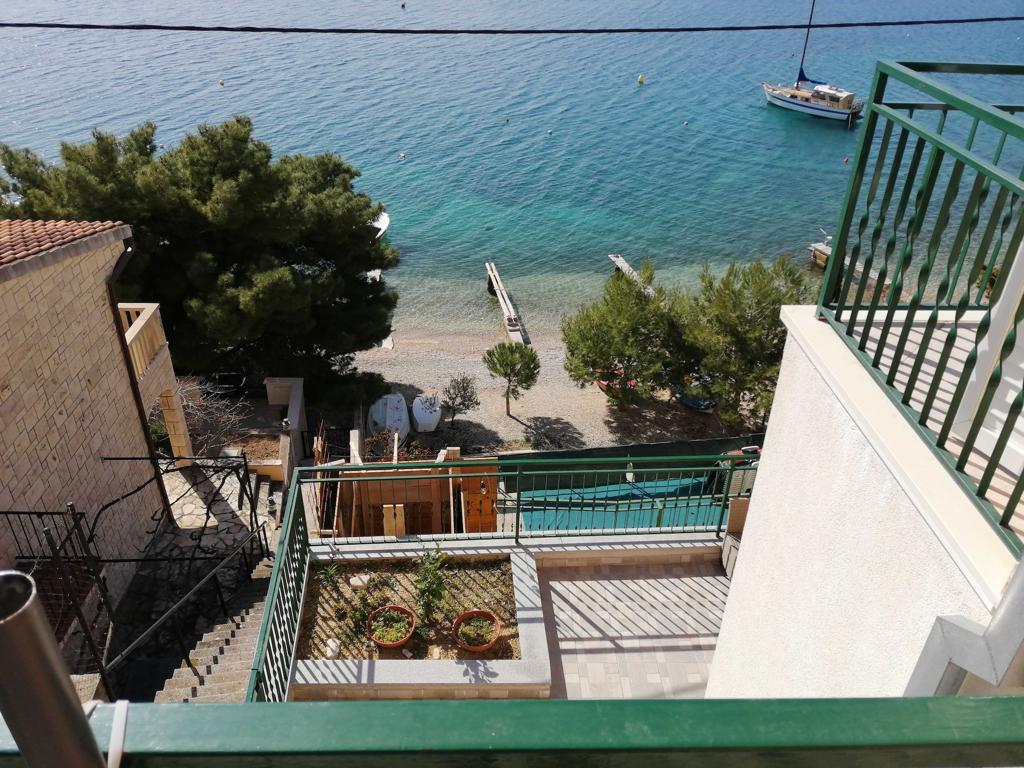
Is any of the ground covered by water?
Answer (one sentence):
Yes, there is water in the image.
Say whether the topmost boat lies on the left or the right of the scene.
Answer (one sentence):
The topmost boat is on the right side of the image.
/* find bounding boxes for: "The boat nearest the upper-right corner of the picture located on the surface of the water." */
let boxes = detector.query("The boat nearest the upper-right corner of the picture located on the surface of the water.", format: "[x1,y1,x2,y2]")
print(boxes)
[752,0,870,122]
